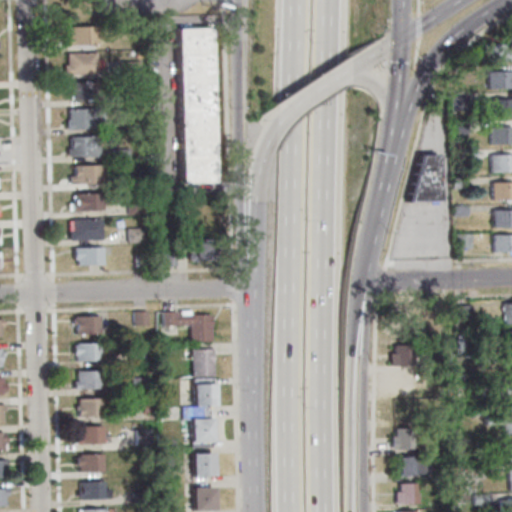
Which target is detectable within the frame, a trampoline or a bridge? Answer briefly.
bridge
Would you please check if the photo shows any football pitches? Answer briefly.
No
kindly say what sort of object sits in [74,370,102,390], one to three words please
house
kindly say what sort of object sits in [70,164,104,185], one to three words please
house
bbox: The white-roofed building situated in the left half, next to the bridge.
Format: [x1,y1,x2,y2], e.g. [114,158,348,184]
[181,28,222,188]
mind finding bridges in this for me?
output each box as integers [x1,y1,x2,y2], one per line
[256,36,384,151]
